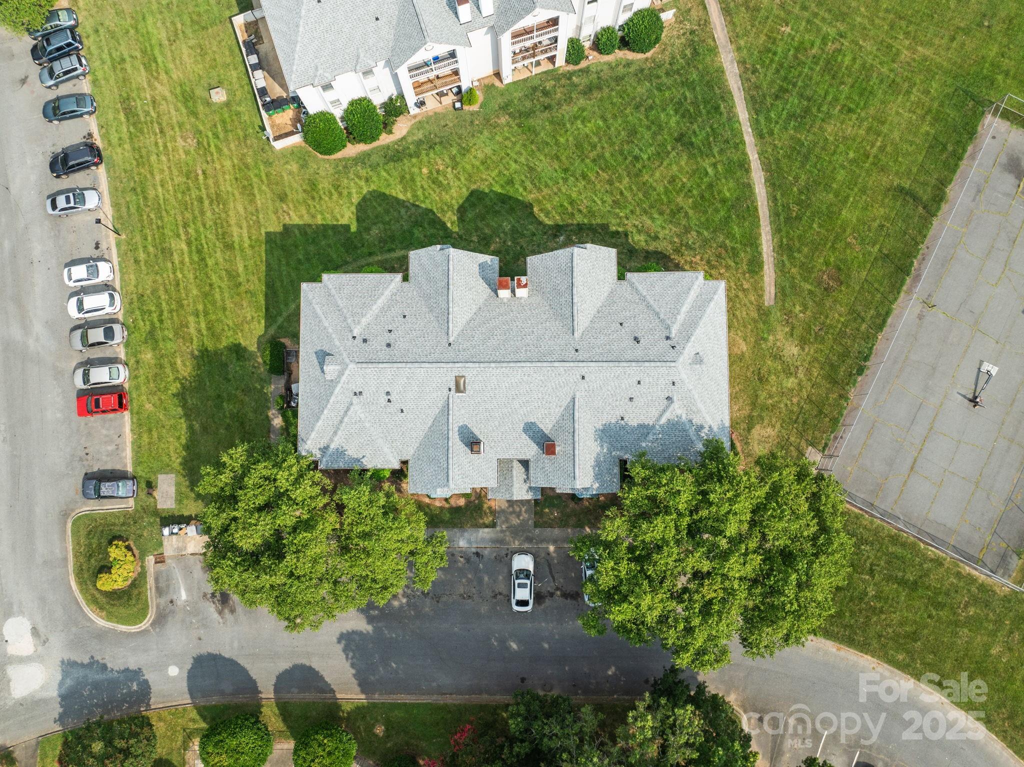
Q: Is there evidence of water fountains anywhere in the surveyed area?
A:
No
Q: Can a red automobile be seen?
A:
Yes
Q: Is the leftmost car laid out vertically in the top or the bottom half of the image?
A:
bottom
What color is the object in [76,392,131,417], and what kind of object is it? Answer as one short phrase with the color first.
red car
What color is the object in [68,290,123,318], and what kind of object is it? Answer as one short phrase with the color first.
white car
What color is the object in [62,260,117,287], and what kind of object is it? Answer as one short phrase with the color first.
white car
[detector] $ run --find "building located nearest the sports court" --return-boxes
[297,246,732,501]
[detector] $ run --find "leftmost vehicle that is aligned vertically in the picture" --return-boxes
[509,552,536,613]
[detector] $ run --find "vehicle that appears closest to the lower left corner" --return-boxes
[83,476,140,502]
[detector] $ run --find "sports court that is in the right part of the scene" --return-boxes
[821,114,1024,579]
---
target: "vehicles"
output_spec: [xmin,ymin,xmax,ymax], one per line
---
[44,95,98,124]
[62,260,117,287]
[68,290,123,318]
[31,29,85,64]
[76,364,132,389]
[46,189,104,218]
[71,325,130,352]
[76,392,131,417]
[29,9,84,41]
[509,552,536,613]
[50,145,105,177]
[83,476,140,502]
[39,55,92,90]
